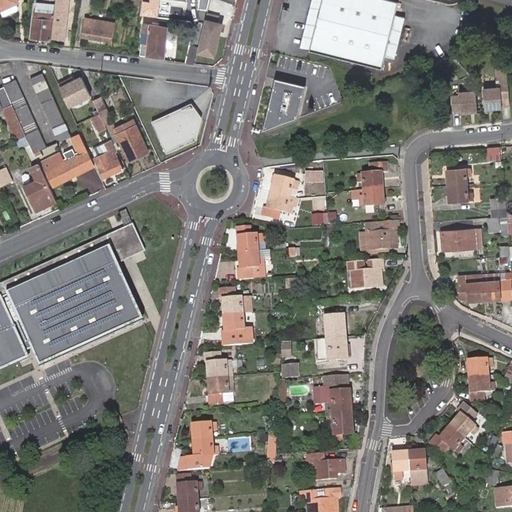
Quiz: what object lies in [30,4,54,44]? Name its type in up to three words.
house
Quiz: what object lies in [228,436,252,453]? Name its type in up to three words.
swimming pool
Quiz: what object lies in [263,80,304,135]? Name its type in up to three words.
building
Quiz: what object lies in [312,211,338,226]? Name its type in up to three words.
shed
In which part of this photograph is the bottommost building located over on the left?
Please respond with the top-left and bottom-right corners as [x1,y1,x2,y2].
[174,470,204,512]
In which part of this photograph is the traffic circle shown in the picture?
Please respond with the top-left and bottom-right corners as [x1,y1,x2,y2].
[180,151,250,218]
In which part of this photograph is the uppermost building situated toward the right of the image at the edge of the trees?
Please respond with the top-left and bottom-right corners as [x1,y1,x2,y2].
[300,0,404,71]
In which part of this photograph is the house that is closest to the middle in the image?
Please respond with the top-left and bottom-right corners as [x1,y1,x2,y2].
[236,224,266,282]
